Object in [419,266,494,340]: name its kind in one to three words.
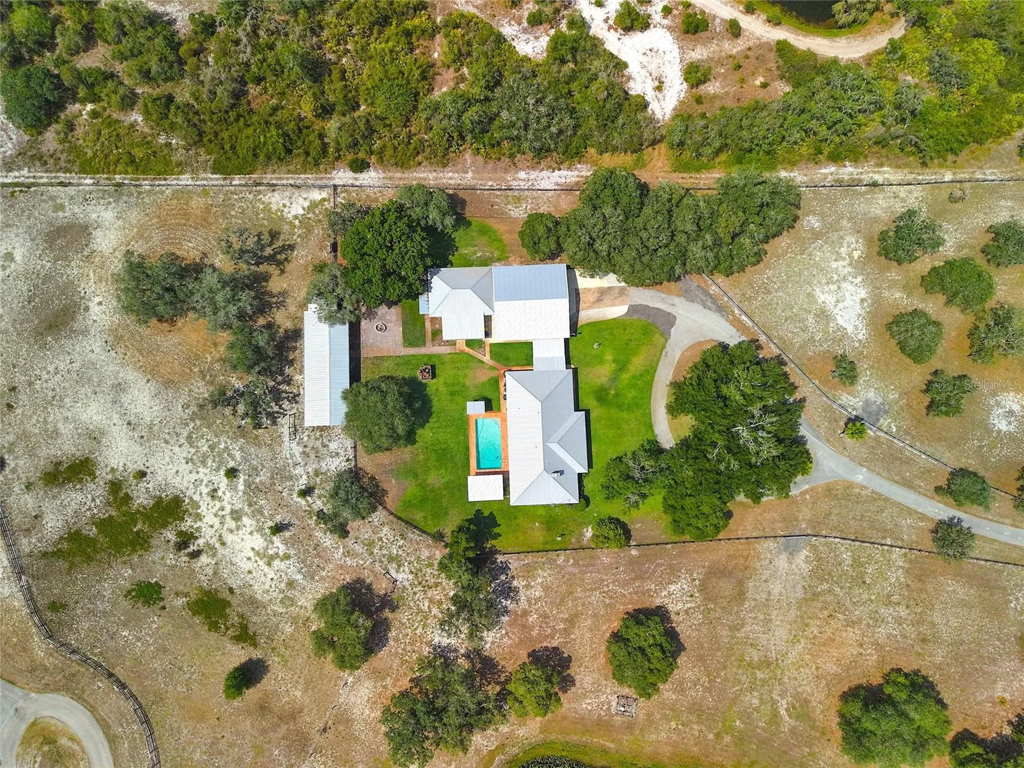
house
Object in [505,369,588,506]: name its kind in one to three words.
house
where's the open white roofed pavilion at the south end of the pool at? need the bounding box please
[467,474,503,502]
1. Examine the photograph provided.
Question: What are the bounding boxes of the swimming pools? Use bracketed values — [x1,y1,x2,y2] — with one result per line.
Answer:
[474,416,506,471]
